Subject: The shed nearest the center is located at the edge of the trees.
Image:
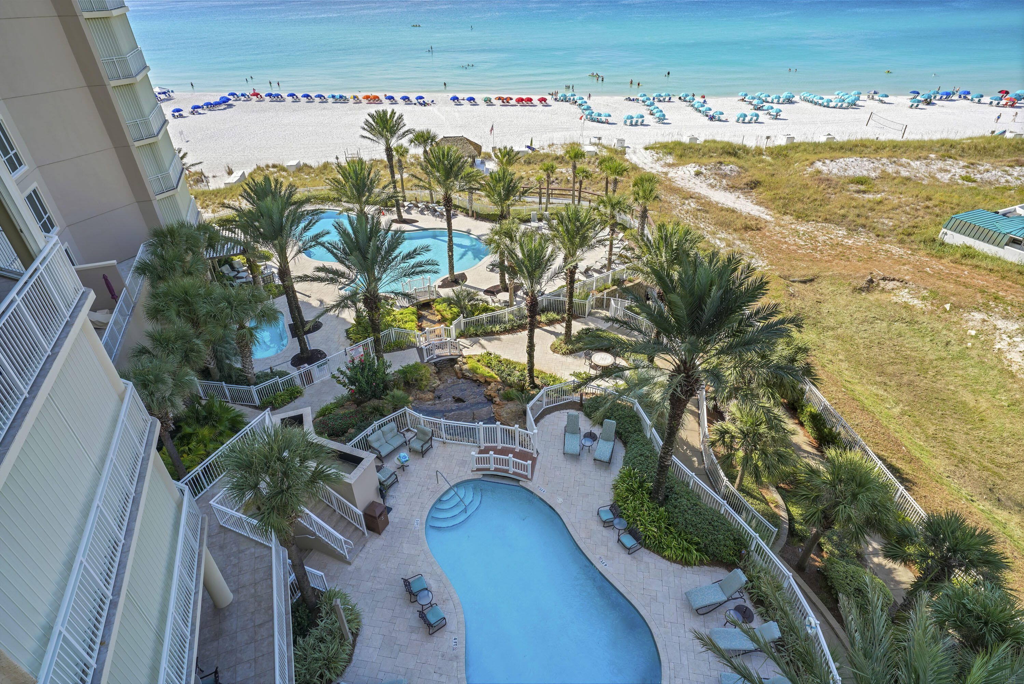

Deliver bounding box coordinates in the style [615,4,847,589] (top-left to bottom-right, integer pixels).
[429,136,478,168]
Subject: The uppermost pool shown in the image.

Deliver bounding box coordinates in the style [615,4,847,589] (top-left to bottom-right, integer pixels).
[294,208,492,294]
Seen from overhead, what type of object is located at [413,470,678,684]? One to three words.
swimming pool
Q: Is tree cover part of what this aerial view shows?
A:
Yes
